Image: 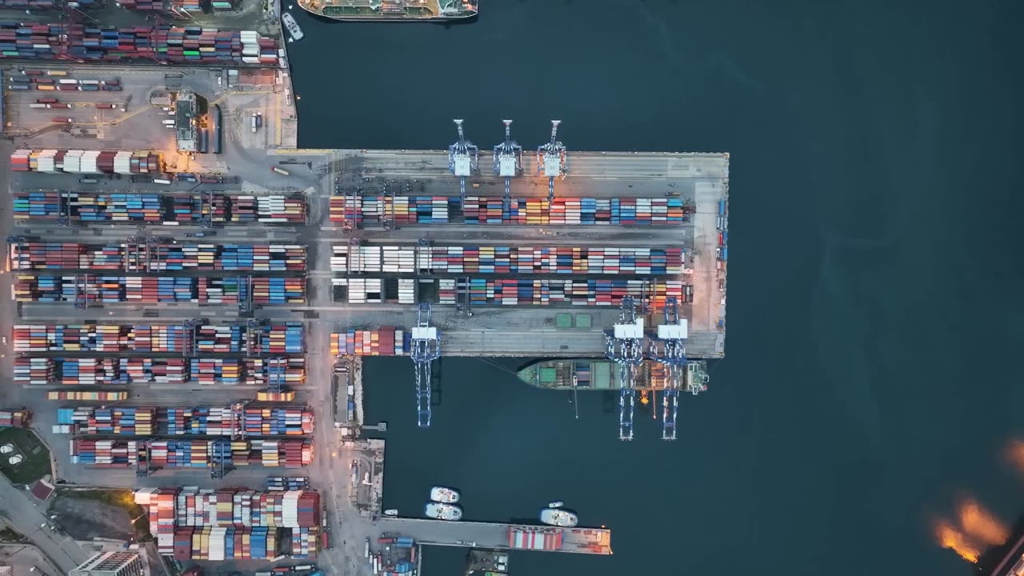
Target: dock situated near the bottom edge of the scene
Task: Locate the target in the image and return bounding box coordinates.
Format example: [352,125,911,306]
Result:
[381,515,612,554]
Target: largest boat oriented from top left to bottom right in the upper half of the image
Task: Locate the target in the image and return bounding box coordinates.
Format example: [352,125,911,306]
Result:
[284,14,306,44]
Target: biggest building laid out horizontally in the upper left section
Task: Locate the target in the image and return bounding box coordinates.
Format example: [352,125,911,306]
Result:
[237,68,274,86]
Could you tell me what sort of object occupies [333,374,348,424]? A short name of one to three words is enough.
shed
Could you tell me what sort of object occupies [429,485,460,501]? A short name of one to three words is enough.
boat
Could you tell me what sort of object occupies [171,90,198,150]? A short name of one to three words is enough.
building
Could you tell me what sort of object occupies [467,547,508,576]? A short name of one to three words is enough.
ship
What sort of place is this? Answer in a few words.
port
